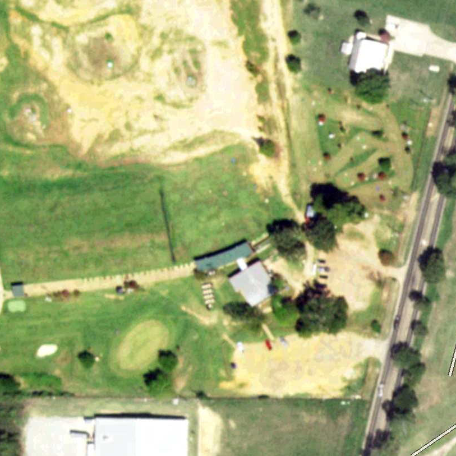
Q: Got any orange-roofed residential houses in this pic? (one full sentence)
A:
No, no orange-roofed residential house can be seen from above.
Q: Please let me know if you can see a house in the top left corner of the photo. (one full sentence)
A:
No, there's no house to be seen in the top left corner of the photo.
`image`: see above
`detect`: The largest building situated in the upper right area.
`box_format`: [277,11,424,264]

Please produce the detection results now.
[351,38,388,72]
